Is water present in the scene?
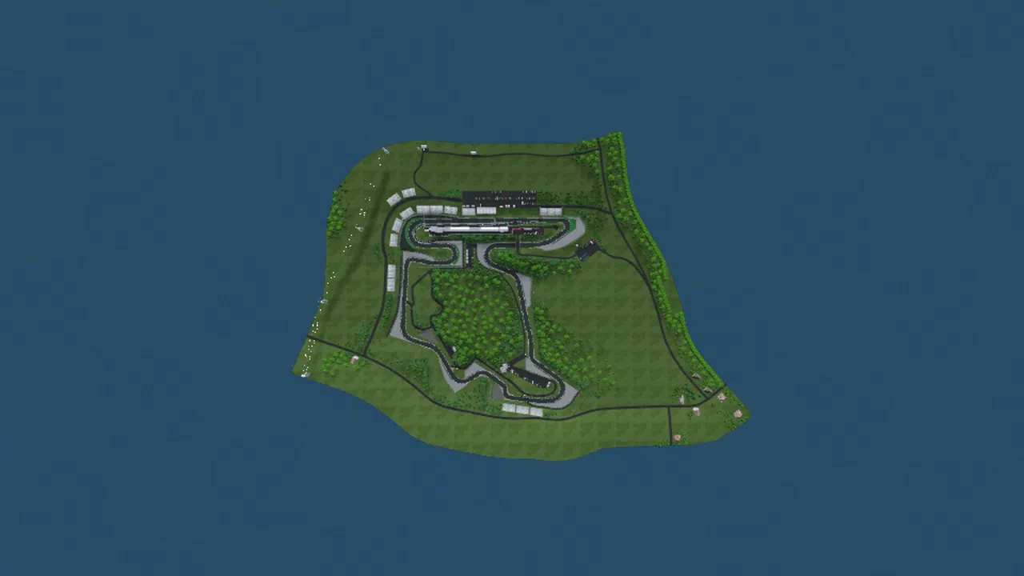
Yes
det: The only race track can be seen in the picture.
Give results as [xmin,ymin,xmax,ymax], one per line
[401,218,570,403]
